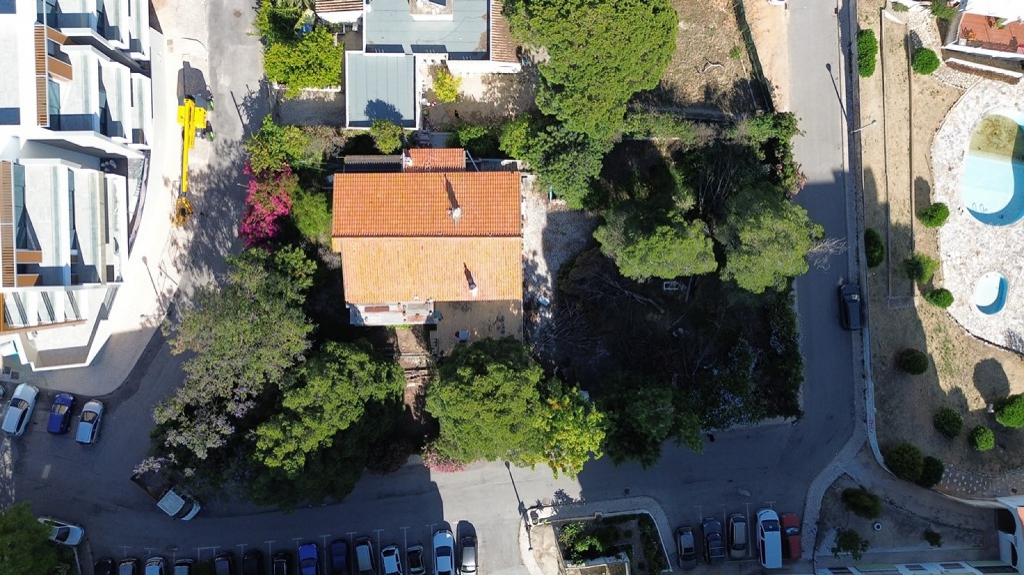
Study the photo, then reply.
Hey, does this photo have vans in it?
Yes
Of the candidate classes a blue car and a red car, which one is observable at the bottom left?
blue car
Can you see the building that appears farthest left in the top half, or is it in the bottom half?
top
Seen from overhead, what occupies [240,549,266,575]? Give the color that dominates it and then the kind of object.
black car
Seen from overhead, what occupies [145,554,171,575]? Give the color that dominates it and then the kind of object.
blue car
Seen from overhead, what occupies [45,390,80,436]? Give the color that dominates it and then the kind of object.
blue car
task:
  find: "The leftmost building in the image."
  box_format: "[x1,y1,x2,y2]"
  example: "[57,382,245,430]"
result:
[0,0,163,371]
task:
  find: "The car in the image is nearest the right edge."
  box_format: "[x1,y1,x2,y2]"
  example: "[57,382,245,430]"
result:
[835,283,865,331]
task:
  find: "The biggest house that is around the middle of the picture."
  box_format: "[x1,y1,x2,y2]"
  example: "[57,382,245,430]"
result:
[331,170,523,303]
